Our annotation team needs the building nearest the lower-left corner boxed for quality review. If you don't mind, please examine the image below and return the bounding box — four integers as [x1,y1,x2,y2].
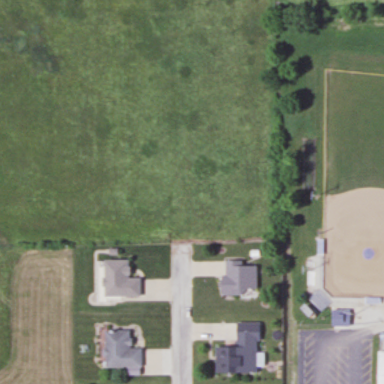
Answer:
[106,330,144,376]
